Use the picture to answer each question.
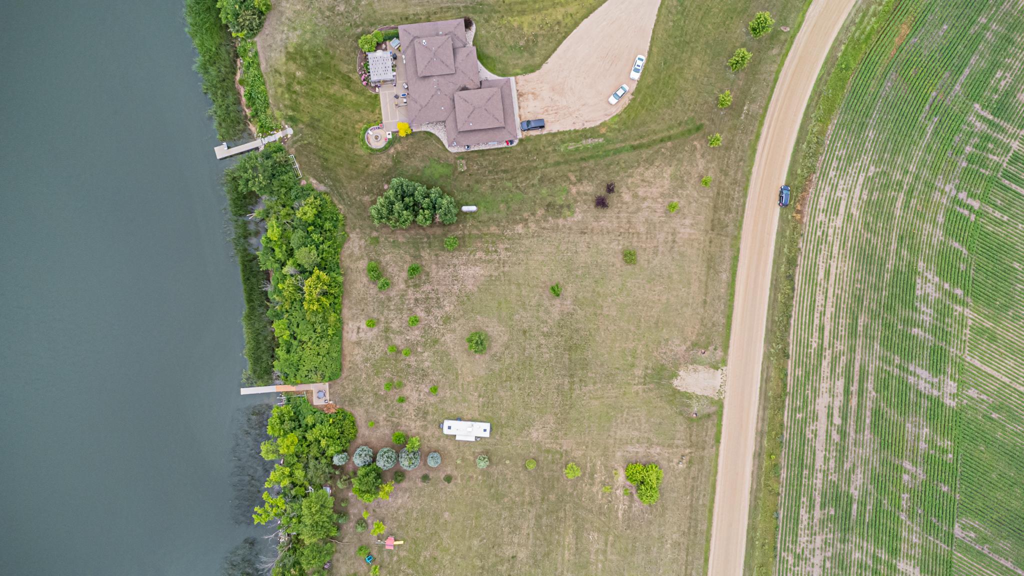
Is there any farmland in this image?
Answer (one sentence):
Yes, the picture does contain farmland.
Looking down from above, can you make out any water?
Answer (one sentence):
Yes, the picture does contain water.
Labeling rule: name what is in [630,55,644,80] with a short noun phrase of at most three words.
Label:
car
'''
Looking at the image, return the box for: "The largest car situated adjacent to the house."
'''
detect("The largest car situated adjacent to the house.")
[520,118,545,132]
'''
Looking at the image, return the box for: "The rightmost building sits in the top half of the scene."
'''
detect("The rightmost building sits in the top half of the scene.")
[398,18,517,147]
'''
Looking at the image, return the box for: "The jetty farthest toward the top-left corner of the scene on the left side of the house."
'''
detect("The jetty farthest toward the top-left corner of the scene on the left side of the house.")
[214,139,263,159]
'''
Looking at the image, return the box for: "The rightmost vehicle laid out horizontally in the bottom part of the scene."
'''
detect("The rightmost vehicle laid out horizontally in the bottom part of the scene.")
[439,414,492,441]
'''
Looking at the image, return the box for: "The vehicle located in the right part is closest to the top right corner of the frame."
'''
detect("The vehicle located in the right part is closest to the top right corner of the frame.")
[778,185,791,207]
